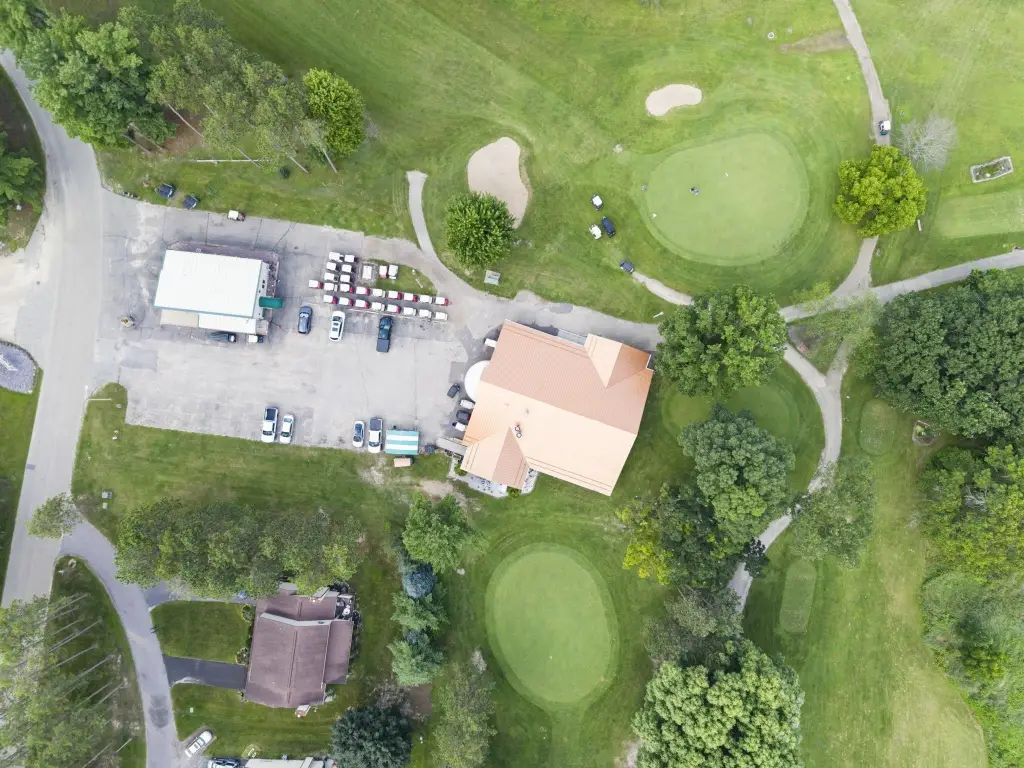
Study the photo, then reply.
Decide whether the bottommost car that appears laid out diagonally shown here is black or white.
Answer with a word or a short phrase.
white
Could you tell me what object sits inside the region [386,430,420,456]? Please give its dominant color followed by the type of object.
white tent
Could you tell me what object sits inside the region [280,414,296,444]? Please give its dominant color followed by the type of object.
white car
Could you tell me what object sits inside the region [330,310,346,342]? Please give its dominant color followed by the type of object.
white car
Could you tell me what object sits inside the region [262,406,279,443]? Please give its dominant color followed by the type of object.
white vehicle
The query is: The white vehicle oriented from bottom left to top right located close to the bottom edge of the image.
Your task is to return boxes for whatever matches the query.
[186,728,214,758]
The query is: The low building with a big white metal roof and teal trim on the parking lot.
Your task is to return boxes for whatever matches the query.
[153,250,286,336]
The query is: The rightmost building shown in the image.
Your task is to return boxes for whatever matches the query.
[435,320,653,495]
